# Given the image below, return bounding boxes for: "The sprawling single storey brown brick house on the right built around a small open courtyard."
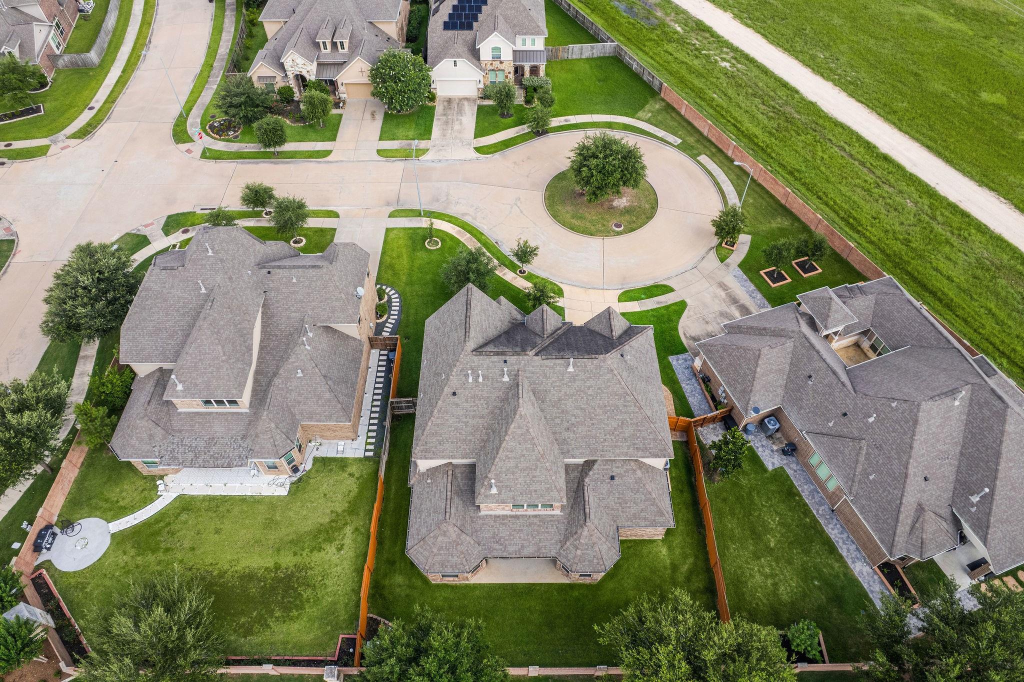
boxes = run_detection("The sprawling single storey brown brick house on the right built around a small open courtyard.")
[694,276,1024,579]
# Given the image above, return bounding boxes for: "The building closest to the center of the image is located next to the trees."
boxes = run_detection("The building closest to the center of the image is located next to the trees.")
[404,283,677,583]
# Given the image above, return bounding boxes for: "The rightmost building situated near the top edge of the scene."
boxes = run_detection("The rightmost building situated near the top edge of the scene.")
[427,0,548,97]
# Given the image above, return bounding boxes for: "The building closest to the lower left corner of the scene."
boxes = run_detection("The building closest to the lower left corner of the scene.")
[107,225,378,480]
